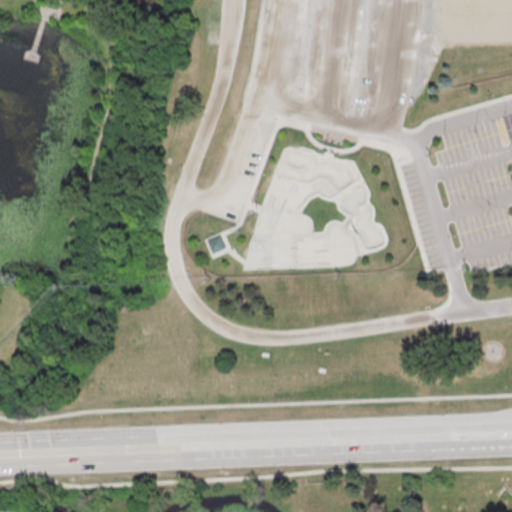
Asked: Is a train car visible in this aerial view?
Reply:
No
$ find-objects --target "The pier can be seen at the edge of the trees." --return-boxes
[24,7,62,64]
